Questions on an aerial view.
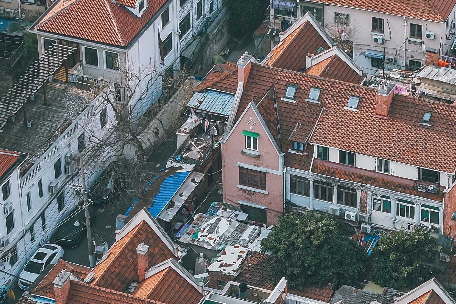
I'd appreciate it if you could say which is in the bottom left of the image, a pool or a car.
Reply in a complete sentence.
You can see a car in the bottom left of the image.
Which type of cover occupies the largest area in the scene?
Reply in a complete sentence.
Most of the picture is covered by buildings.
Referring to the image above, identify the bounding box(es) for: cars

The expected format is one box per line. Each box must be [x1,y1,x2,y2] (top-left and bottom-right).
[17,244,68,292]
[52,209,99,254]
[83,169,130,211]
